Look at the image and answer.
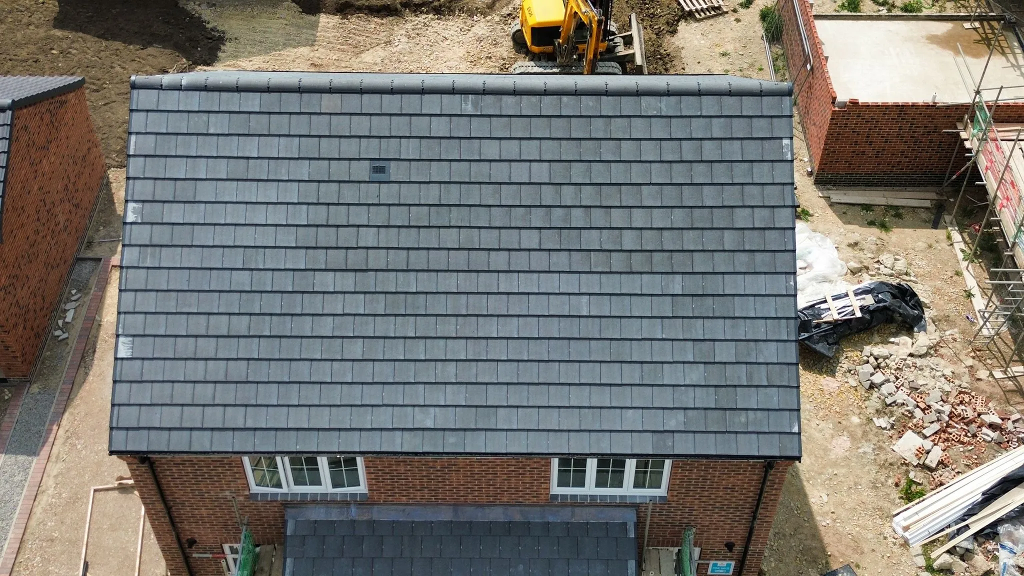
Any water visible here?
No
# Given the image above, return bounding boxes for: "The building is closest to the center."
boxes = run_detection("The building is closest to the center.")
[107,69,803,576]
